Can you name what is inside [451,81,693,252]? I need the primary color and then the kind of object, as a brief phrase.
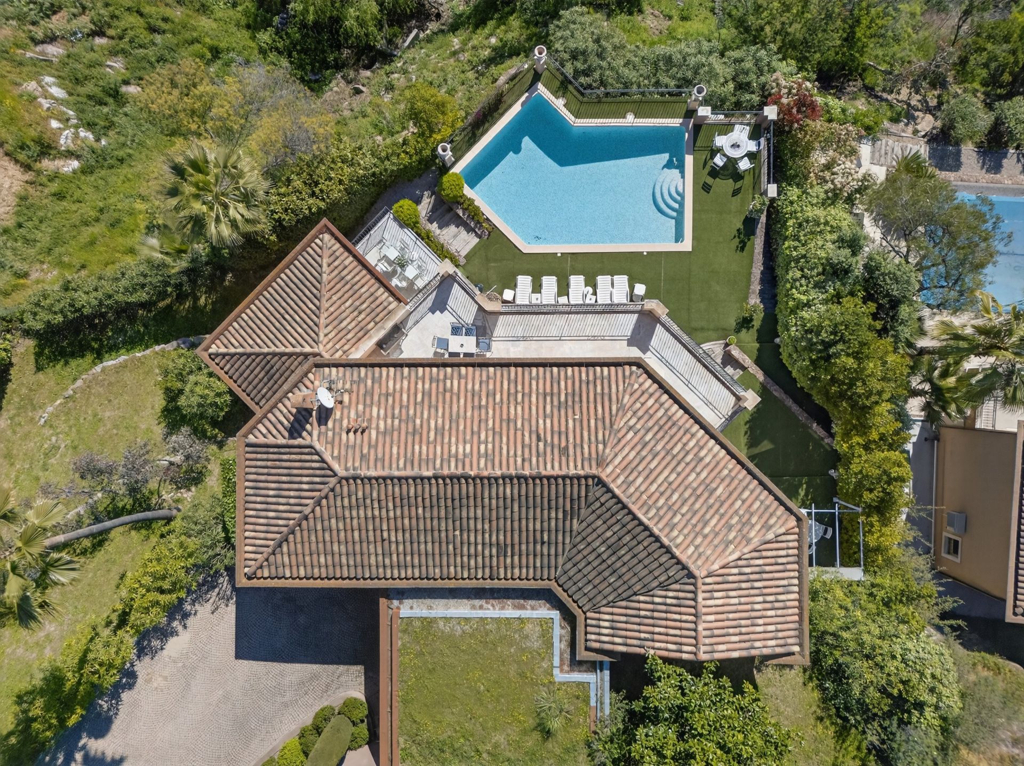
blue swimming pool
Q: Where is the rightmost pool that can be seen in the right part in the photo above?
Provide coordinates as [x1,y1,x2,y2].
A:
[926,188,1024,307]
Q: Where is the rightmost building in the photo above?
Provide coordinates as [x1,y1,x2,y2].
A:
[937,420,1024,623]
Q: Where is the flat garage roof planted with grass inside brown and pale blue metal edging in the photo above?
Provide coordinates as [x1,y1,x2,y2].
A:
[379,588,609,766]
